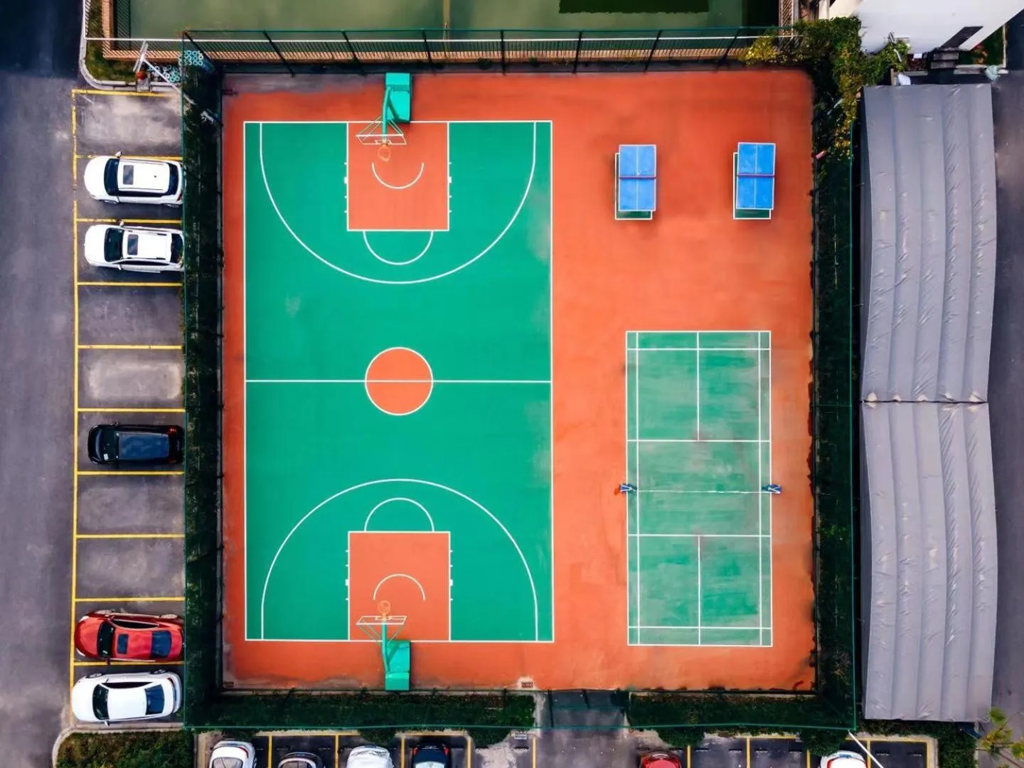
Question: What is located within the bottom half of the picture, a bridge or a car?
car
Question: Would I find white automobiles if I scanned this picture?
Yes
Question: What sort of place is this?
sports ground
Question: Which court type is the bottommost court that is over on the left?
basketball court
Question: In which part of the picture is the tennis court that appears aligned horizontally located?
top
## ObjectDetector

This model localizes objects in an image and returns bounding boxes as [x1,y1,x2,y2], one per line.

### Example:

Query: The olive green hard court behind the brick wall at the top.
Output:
[114,0,779,50]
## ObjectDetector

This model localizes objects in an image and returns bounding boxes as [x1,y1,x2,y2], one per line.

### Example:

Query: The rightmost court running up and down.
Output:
[626,331,772,647]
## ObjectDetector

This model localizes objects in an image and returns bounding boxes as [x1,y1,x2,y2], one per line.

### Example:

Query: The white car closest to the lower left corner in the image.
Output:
[72,666,186,723]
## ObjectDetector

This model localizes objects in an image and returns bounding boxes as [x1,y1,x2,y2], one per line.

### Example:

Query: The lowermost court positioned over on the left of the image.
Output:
[244,120,554,642]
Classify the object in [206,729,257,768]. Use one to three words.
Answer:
car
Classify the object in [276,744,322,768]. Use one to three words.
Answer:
car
